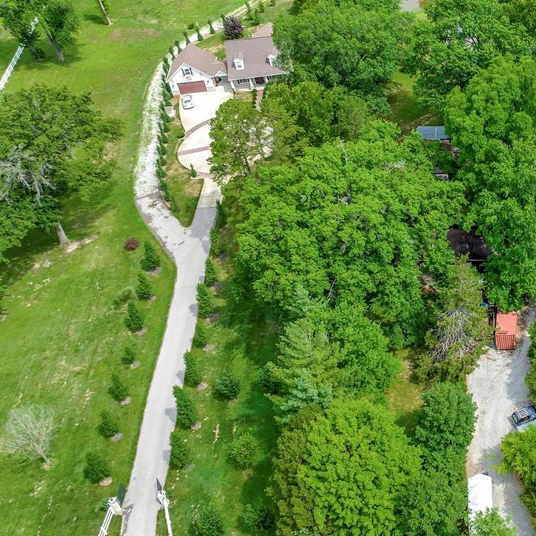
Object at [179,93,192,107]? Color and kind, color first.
white vehicle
